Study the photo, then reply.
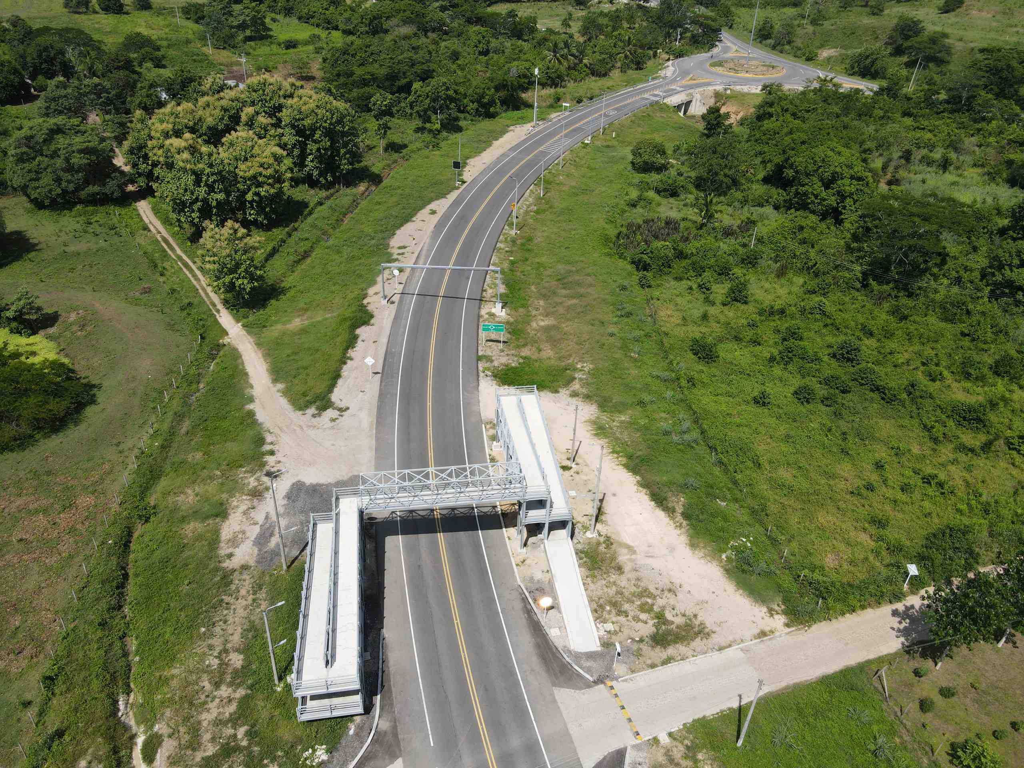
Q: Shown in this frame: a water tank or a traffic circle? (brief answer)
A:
traffic circle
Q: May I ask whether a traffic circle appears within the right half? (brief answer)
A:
Yes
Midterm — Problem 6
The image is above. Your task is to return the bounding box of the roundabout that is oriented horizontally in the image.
[657,22,906,99]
